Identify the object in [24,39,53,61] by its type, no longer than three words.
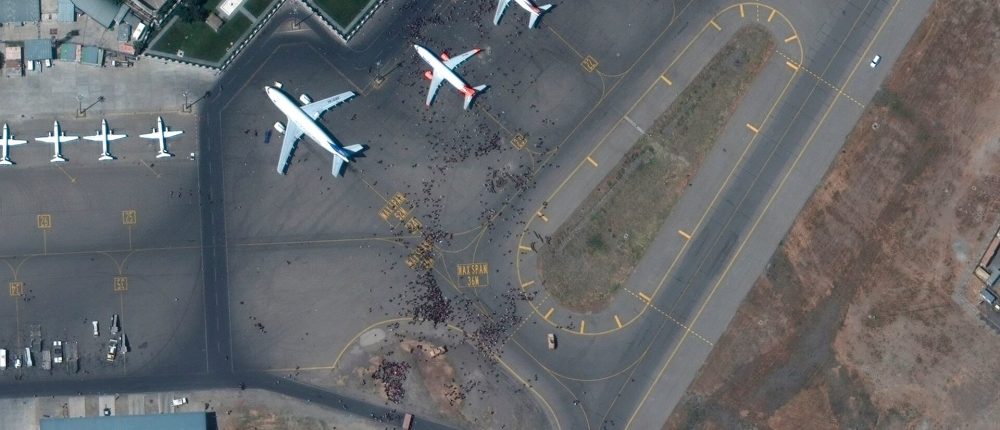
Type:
shed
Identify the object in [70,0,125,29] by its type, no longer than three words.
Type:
hangar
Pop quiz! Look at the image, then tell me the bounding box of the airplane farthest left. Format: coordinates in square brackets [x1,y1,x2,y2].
[0,124,27,162]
